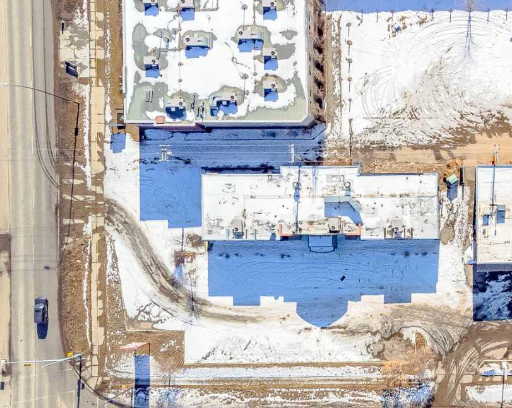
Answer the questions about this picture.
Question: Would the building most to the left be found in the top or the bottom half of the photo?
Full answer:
Seen from above, the building most to the left lies in the top half of the view.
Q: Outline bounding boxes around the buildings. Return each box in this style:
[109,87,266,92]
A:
[122,0,320,137]
[476,164,512,271]
[202,166,439,256]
